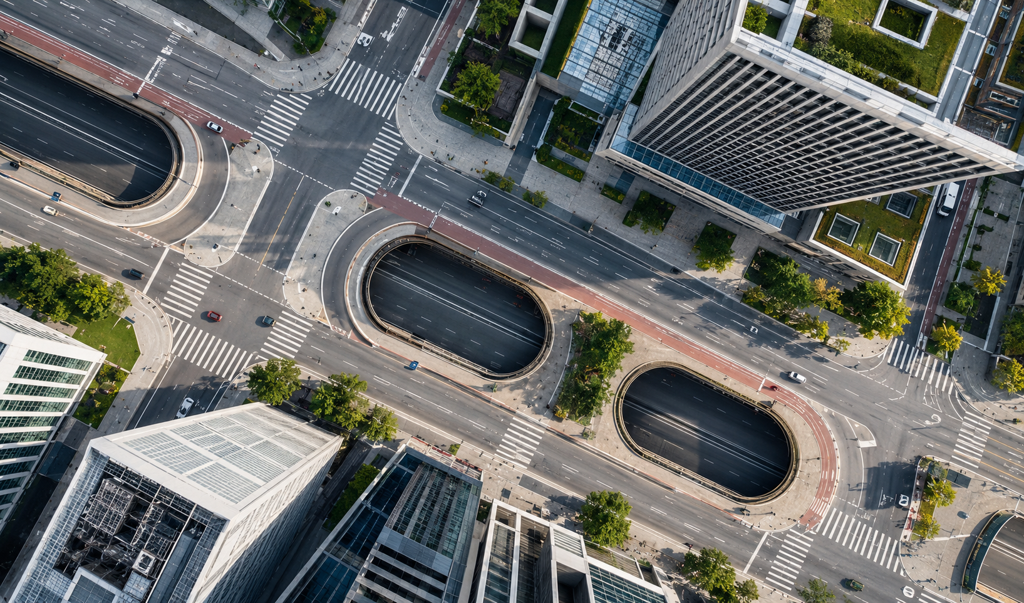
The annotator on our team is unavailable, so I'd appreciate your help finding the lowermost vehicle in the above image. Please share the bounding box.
[845,576,867,593]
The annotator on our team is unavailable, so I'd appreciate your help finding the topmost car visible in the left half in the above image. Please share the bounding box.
[356,33,370,48]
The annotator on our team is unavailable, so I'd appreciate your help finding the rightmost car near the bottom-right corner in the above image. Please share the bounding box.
[897,493,909,507]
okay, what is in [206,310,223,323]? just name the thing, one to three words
vehicle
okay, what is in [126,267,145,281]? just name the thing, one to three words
car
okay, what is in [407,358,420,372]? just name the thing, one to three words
vehicle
